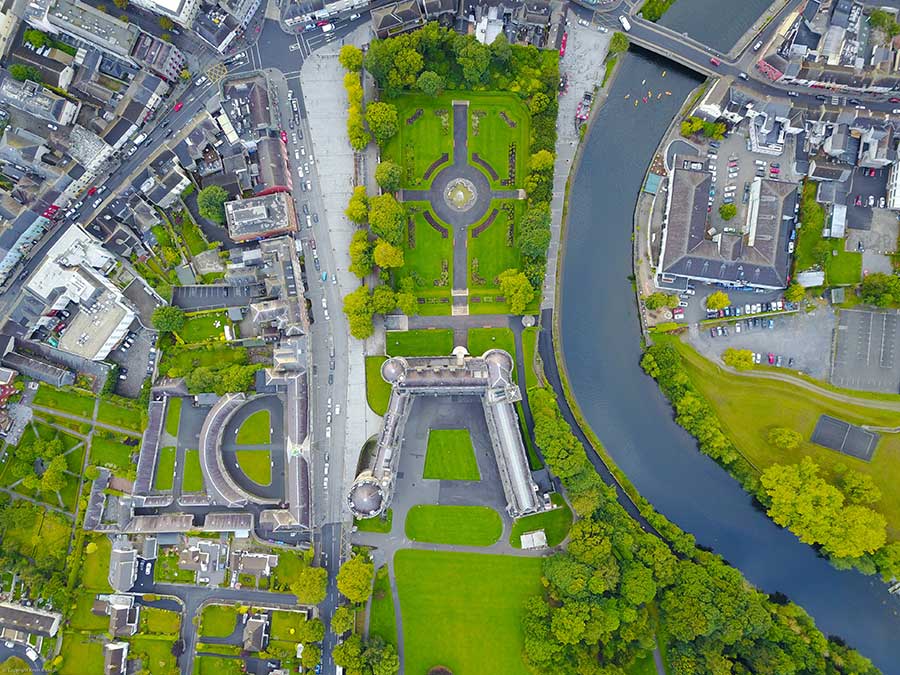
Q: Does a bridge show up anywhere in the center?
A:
No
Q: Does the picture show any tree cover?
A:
Yes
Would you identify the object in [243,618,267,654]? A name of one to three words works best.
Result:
house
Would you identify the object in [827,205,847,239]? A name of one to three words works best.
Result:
shed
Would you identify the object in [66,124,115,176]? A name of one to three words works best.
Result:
building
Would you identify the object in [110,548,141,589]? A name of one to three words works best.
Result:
house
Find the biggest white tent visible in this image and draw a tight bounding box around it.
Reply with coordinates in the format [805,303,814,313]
[519,529,547,549]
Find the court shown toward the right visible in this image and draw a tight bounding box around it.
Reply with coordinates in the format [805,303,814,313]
[811,414,882,461]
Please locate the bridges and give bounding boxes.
[608,9,728,78]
